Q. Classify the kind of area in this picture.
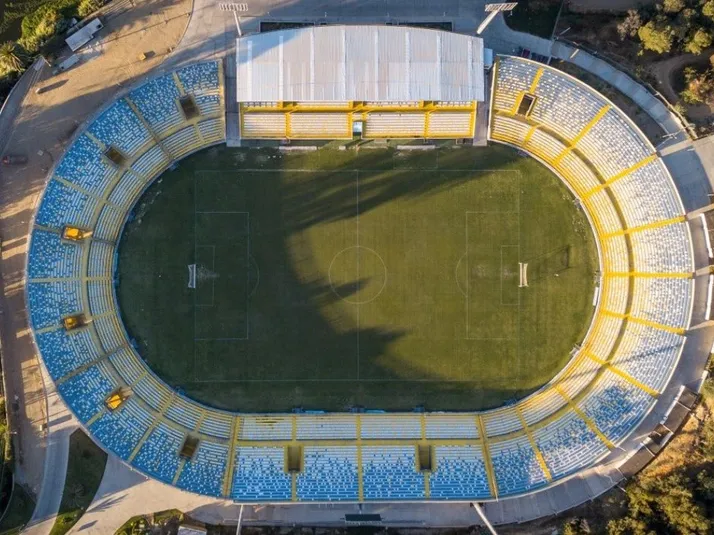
sports ground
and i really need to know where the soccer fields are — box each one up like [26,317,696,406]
[116,130,600,413]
